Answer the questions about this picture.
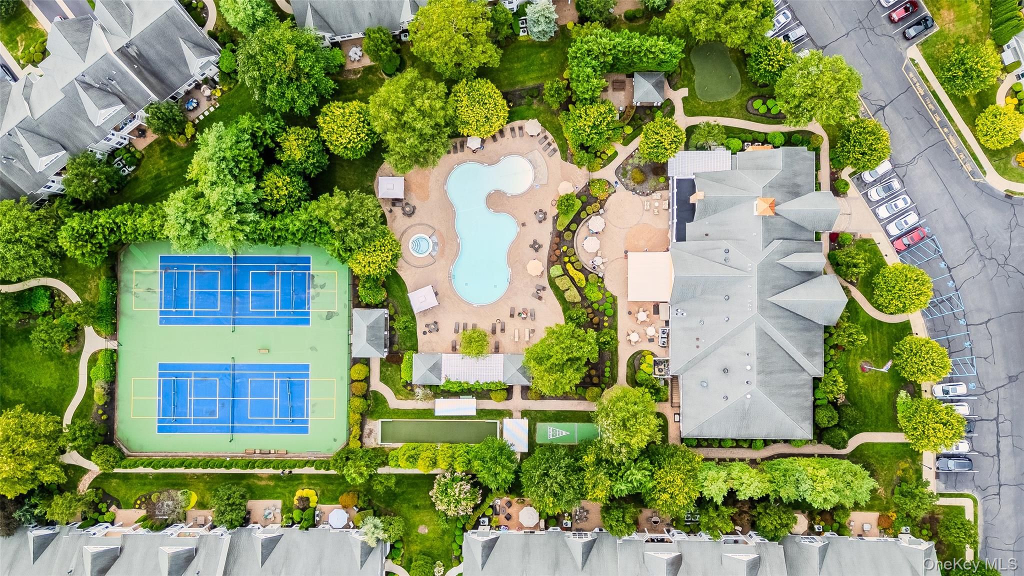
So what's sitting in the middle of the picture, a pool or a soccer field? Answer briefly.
pool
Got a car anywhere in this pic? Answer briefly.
Yes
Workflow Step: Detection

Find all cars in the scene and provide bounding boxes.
[782,24,807,43]
[886,0,918,24]
[951,439,970,453]
[931,382,965,397]
[892,229,925,252]
[859,158,896,185]
[764,13,792,36]
[876,196,908,219]
[885,212,918,235]
[950,402,969,414]
[47,3,67,21]
[901,16,934,41]
[866,179,899,202]
[936,456,970,472]
[964,419,972,432]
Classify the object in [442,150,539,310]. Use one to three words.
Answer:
swimming pool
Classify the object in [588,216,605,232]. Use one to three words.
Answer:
umbrella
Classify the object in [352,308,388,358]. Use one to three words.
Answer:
gazebo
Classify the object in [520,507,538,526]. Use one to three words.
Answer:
umbrella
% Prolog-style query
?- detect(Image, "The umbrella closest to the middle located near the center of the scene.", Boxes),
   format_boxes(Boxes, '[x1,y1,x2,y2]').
[527,260,543,276]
